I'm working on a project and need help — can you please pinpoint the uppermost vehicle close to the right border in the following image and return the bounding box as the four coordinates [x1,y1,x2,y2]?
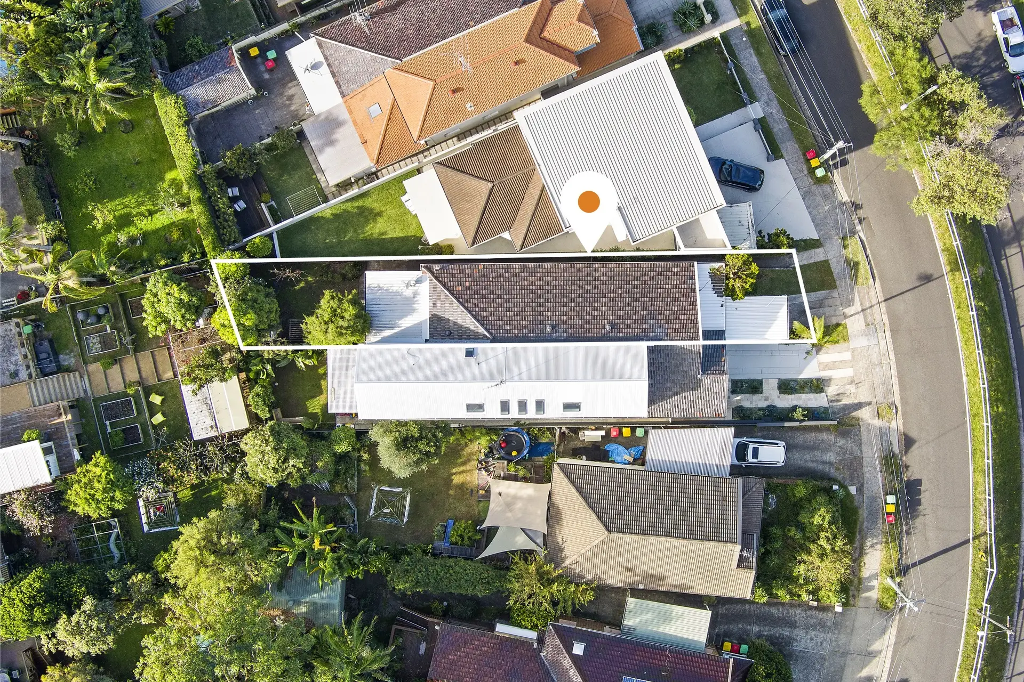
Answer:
[995,5,1024,72]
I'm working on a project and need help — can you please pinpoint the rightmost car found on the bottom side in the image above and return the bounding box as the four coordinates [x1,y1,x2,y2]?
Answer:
[732,438,788,466]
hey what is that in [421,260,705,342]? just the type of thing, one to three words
house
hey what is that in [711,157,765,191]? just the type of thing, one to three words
car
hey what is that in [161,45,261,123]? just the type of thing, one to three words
building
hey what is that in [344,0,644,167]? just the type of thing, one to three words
house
